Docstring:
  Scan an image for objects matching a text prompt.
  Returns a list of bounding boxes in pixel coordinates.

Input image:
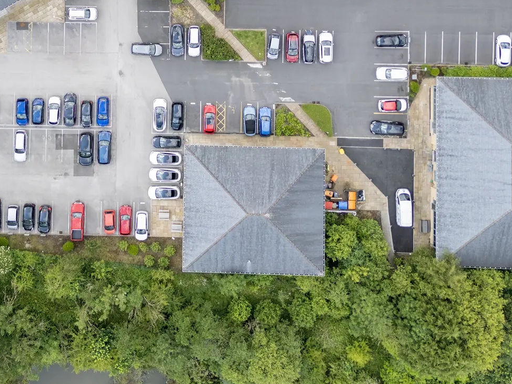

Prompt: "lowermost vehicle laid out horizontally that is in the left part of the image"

[148,185,180,201]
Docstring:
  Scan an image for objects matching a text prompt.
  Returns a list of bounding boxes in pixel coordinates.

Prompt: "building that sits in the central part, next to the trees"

[181,143,327,277]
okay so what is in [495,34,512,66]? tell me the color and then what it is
white car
